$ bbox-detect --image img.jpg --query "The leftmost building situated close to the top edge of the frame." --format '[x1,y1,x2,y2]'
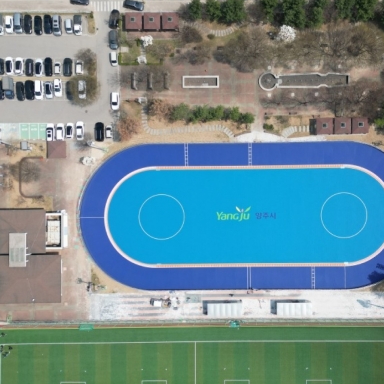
[125,12,143,32]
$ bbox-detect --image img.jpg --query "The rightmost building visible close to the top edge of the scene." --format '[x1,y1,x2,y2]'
[162,12,179,32]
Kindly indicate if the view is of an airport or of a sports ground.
sports ground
